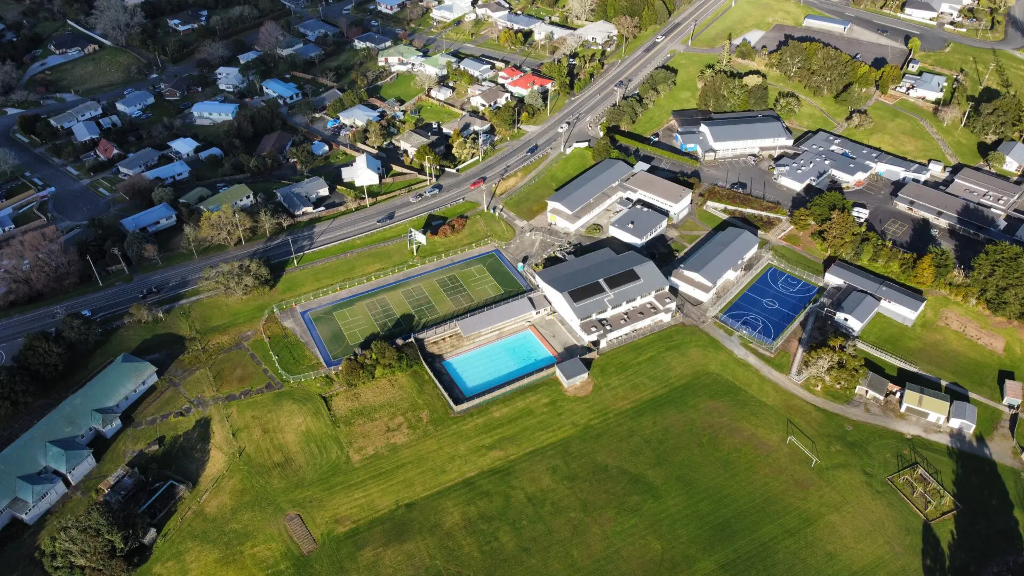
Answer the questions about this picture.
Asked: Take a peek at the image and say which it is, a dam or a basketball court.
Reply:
basketball court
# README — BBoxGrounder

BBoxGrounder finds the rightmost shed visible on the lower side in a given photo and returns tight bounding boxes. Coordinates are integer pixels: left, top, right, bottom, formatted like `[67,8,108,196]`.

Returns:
[992,377,1021,412]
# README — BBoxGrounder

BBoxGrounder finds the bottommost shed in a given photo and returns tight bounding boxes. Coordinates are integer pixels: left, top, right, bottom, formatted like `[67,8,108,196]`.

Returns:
[139,527,164,550]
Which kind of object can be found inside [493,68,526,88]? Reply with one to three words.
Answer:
house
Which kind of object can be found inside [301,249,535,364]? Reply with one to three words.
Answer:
sports court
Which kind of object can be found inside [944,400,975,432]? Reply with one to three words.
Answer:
shed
